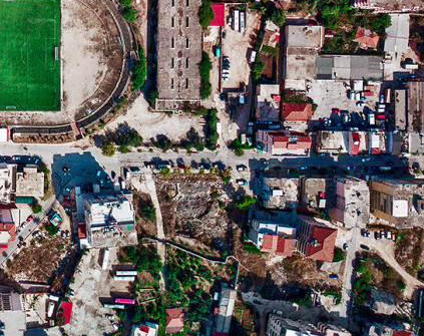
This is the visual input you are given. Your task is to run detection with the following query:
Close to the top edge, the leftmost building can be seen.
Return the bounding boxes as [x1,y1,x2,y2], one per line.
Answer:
[153,0,203,98]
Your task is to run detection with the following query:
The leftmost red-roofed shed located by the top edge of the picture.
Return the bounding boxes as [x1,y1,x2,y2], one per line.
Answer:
[208,2,225,26]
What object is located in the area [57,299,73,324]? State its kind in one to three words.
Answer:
shed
